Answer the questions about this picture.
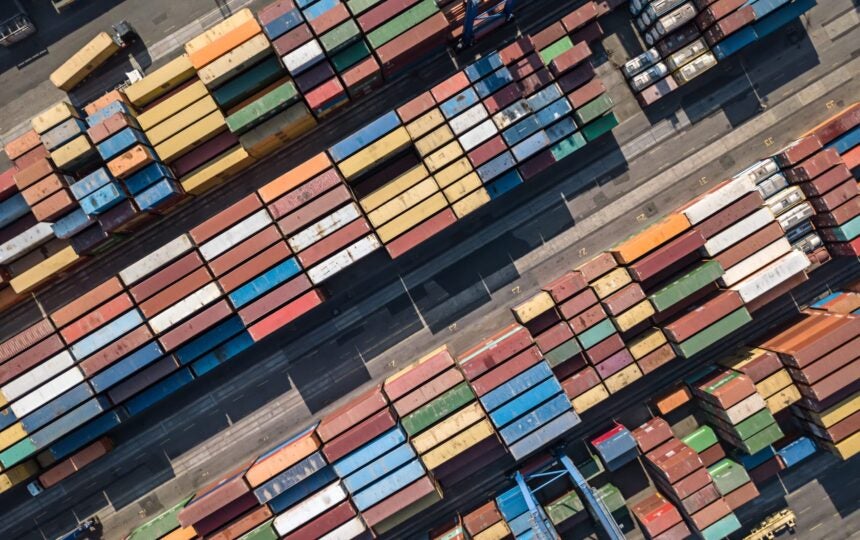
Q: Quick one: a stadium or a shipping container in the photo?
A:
shipping container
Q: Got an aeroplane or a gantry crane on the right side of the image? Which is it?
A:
gantry crane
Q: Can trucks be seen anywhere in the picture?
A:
Yes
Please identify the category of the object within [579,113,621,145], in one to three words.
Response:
shipping container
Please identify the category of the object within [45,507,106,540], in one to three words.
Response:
truck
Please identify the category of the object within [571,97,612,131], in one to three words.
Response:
shipping container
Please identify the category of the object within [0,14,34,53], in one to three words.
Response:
trailer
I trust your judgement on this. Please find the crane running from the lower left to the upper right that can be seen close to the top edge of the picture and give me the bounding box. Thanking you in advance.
[450,0,524,53]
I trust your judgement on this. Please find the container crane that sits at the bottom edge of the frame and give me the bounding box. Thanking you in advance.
[499,436,634,540]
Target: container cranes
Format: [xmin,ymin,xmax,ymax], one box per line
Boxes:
[450,0,524,53]
[499,436,634,540]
